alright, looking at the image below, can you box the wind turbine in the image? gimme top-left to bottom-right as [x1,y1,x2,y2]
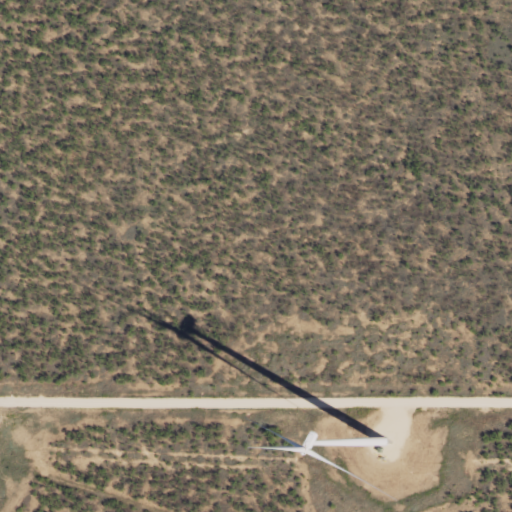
[248,422,394,500]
